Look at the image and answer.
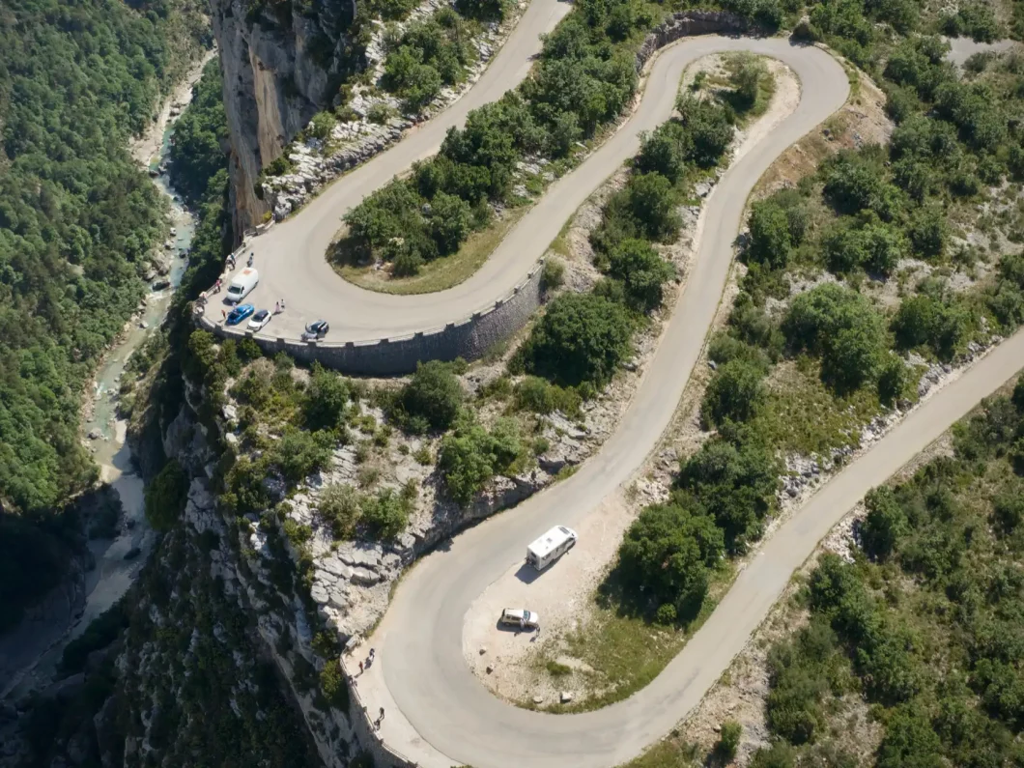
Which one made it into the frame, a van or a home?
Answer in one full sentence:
Of the two, only a van appears.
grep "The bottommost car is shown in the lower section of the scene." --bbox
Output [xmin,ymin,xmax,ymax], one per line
[501,605,539,627]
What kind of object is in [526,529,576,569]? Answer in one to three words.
camper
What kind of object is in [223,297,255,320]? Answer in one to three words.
car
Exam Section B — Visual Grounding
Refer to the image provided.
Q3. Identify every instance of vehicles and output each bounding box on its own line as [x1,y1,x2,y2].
[526,529,576,569]
[228,263,261,300]
[246,304,274,329]
[299,313,329,338]
[223,297,255,320]
[501,605,539,627]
